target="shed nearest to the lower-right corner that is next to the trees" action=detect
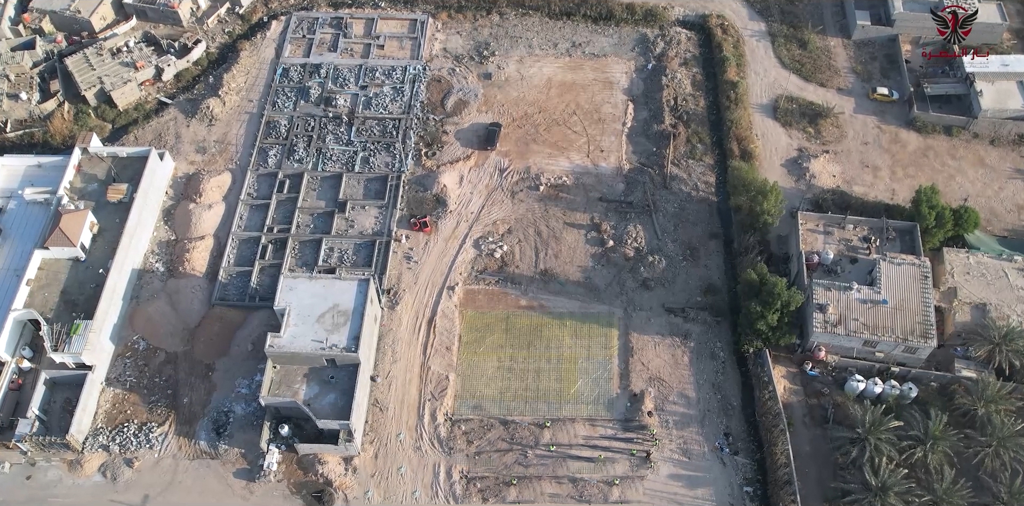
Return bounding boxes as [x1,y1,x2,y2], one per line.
[946,359,994,379]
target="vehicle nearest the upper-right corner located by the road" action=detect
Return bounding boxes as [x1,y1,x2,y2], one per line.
[870,87,902,103]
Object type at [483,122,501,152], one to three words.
car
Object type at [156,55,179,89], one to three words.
shed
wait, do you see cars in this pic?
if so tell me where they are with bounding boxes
[870,87,902,103]
[483,122,501,152]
